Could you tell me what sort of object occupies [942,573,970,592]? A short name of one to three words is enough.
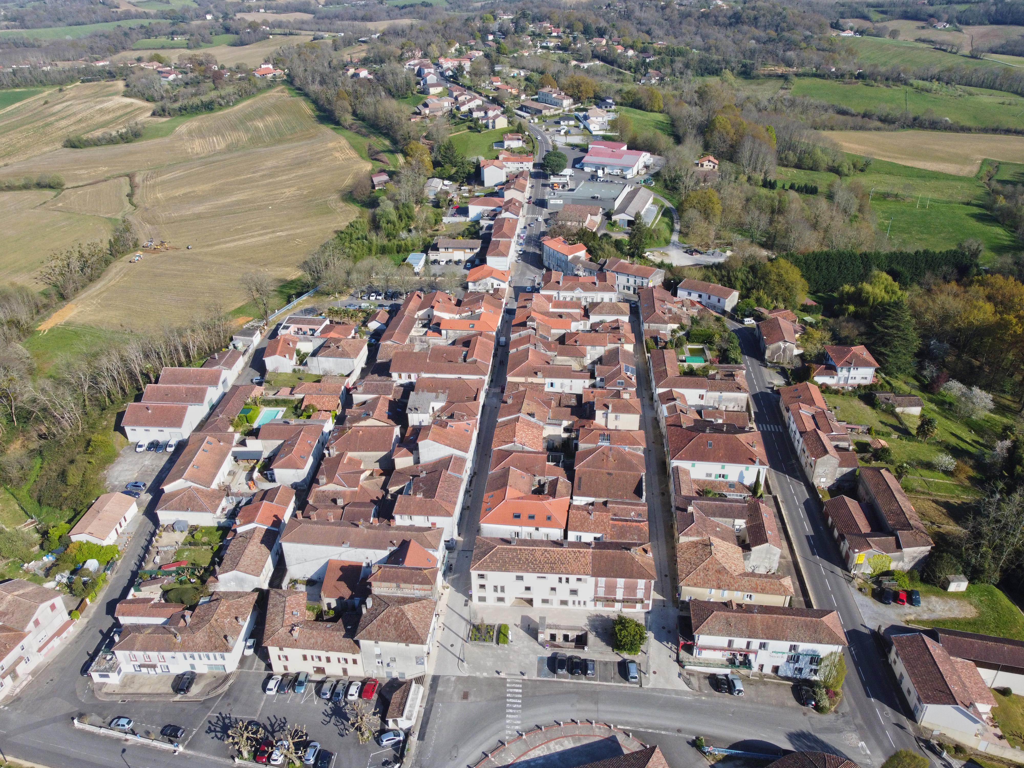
building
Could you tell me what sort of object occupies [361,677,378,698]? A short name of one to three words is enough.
car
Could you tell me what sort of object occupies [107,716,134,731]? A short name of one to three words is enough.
car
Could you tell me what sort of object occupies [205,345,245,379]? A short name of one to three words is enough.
house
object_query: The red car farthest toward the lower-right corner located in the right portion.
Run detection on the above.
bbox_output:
[897,588,909,604]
